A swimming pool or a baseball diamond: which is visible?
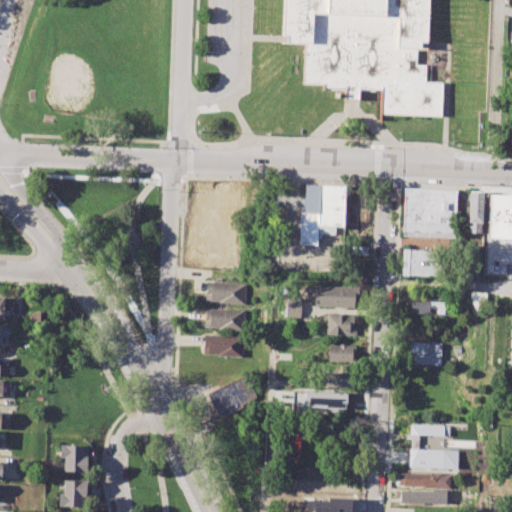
baseball diamond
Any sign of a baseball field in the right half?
No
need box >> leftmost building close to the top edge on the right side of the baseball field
[282,0,444,118]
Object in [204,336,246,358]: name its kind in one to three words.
house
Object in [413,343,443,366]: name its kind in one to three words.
house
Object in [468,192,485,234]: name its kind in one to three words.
building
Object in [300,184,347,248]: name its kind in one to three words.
building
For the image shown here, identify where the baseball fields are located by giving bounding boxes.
[46,52,112,118]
